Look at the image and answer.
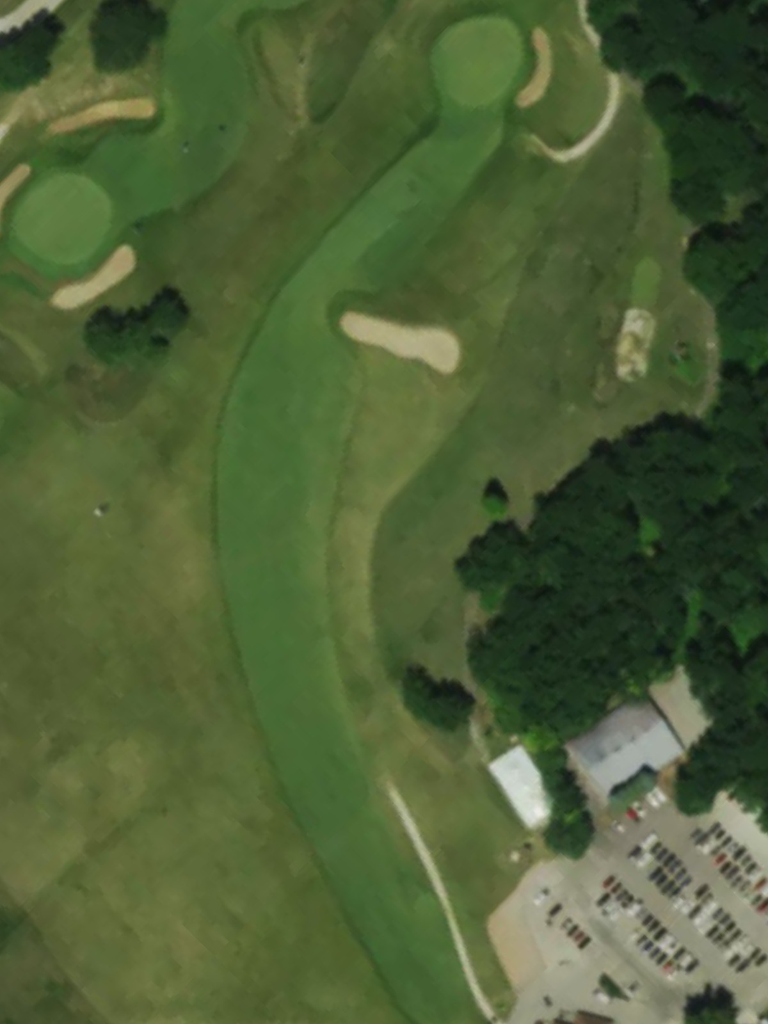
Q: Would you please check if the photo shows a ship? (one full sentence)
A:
No, the photo shows no ship.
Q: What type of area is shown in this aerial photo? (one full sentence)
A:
It's a golf course.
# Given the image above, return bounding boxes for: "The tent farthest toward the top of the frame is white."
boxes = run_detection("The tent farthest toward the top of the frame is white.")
[489,745,557,830]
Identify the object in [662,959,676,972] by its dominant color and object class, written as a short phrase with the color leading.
red vehicle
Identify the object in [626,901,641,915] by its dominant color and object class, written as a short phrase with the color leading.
white car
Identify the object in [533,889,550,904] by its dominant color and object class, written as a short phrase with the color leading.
white vehicle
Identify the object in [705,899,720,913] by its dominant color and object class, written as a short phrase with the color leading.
white car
